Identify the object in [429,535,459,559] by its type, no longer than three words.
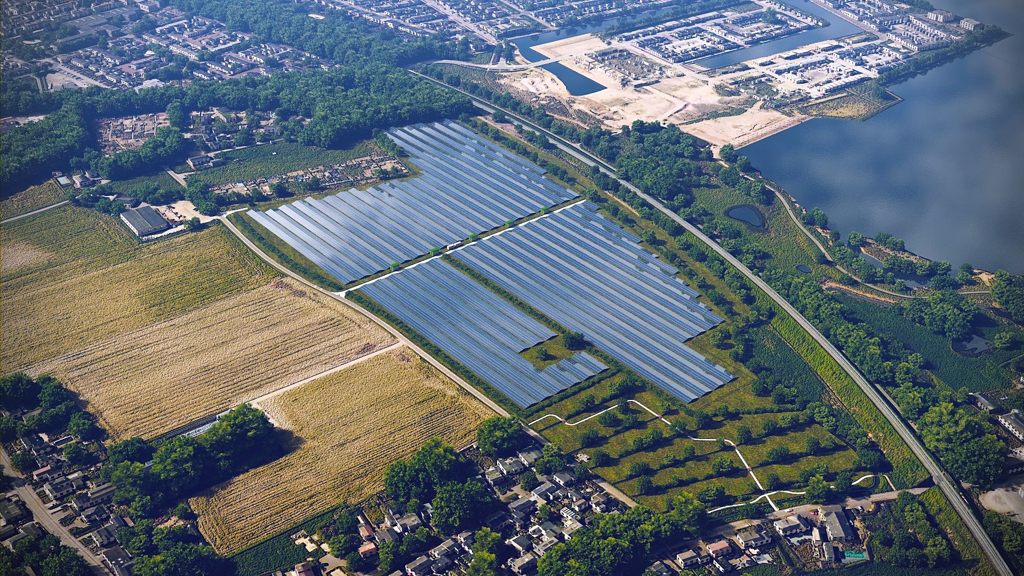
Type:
house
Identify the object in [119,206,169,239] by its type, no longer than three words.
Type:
barn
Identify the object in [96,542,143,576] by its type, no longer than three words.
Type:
house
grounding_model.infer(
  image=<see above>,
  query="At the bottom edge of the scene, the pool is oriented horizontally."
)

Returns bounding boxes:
[838,548,871,562]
